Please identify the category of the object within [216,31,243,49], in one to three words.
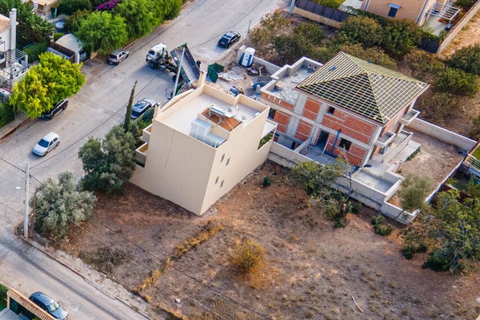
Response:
car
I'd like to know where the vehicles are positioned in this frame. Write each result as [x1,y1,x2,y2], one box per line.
[151,34,203,86]
[216,31,243,49]
[104,50,131,67]
[133,94,160,114]
[38,94,72,120]
[31,130,63,156]
[24,284,73,320]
